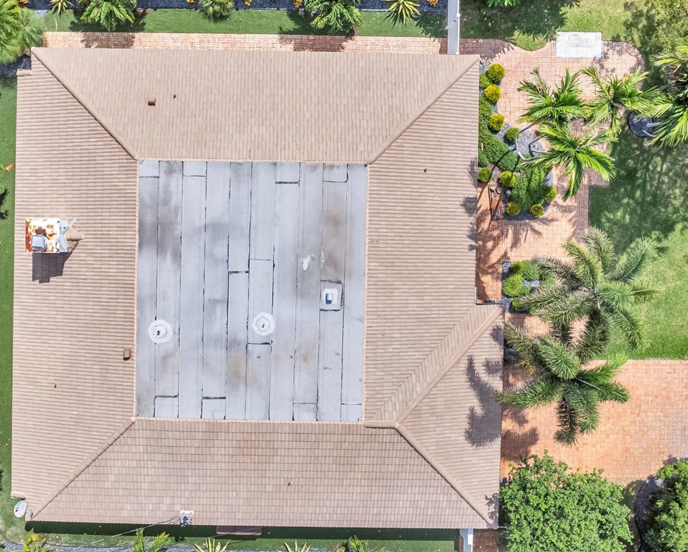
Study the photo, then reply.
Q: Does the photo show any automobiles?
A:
No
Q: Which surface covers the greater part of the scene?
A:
buildings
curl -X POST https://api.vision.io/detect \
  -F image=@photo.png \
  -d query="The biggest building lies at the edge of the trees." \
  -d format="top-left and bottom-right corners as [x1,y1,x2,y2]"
[8,43,508,534]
